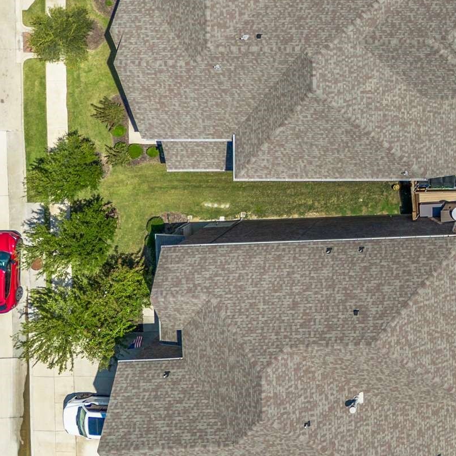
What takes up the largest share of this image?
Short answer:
buildings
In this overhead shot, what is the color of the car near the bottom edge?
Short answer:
white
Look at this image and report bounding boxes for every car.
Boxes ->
[64,393,110,440]
[0,230,25,313]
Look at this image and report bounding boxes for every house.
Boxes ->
[109,0,456,182]
[98,217,456,456]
